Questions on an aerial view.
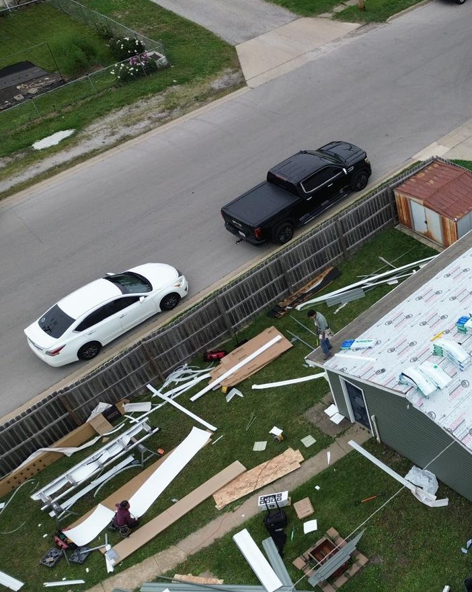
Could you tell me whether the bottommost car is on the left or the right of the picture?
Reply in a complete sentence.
The bottommost car appears in the left half of the scene.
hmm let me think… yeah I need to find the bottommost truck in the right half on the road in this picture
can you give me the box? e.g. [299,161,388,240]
[220,144,377,249]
